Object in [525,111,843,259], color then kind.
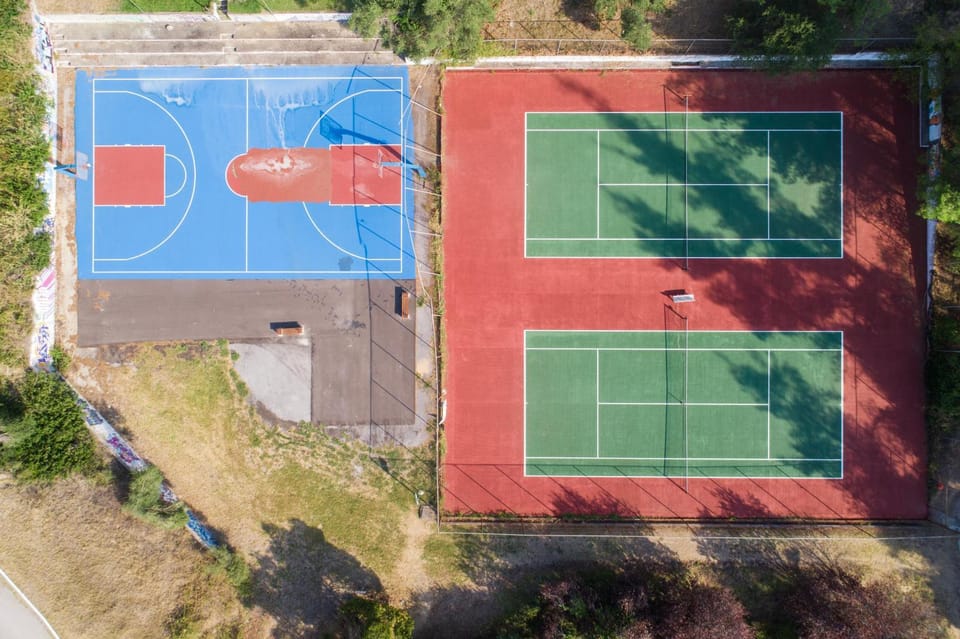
green tennis court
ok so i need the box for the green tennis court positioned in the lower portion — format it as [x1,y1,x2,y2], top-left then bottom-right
[524,331,843,478]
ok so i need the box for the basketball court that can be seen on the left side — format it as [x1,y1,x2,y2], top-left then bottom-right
[75,67,415,280]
